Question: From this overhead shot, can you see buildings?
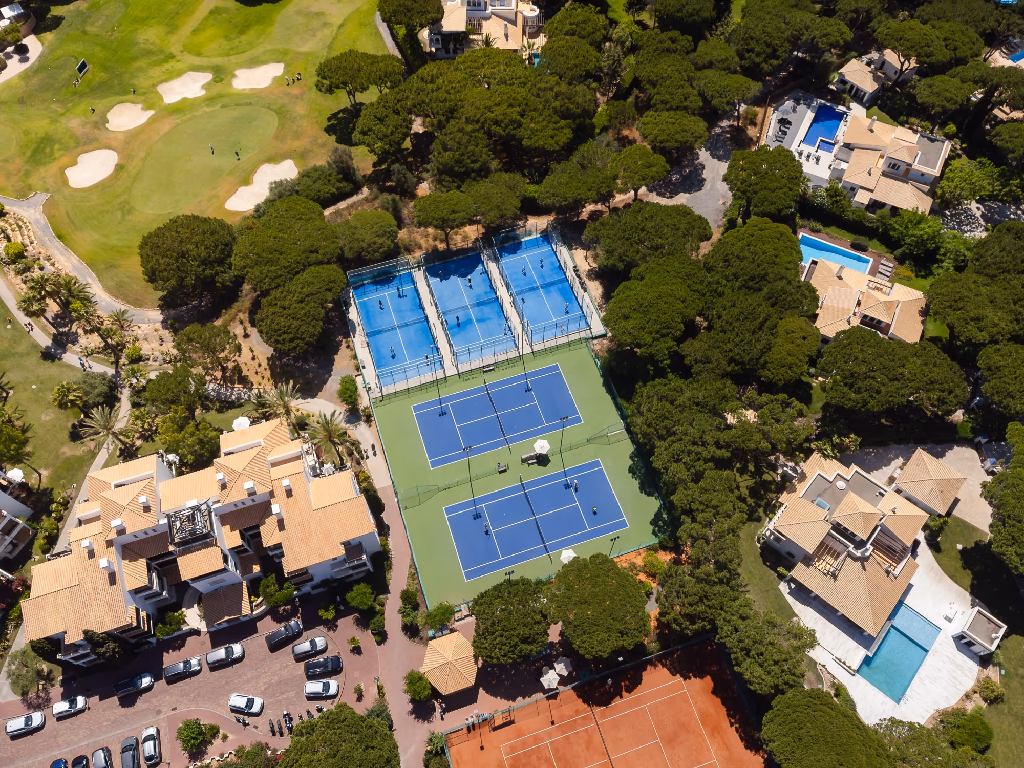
Yes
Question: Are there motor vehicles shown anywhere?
Yes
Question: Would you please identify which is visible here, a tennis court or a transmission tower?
tennis court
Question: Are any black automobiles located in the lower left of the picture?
Yes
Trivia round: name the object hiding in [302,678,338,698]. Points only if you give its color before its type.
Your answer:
white car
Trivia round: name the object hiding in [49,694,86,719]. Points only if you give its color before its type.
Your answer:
white car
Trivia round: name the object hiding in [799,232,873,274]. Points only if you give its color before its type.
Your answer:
blue swimming pool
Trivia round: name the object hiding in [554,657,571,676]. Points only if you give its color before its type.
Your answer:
white umbrella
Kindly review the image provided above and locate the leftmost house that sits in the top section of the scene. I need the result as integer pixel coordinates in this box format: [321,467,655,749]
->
[429,0,546,62]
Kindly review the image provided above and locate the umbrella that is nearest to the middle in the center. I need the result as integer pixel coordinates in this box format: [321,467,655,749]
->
[533,440,550,456]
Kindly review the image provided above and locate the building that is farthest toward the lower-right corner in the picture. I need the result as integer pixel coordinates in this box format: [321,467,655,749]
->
[949,606,1007,657]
